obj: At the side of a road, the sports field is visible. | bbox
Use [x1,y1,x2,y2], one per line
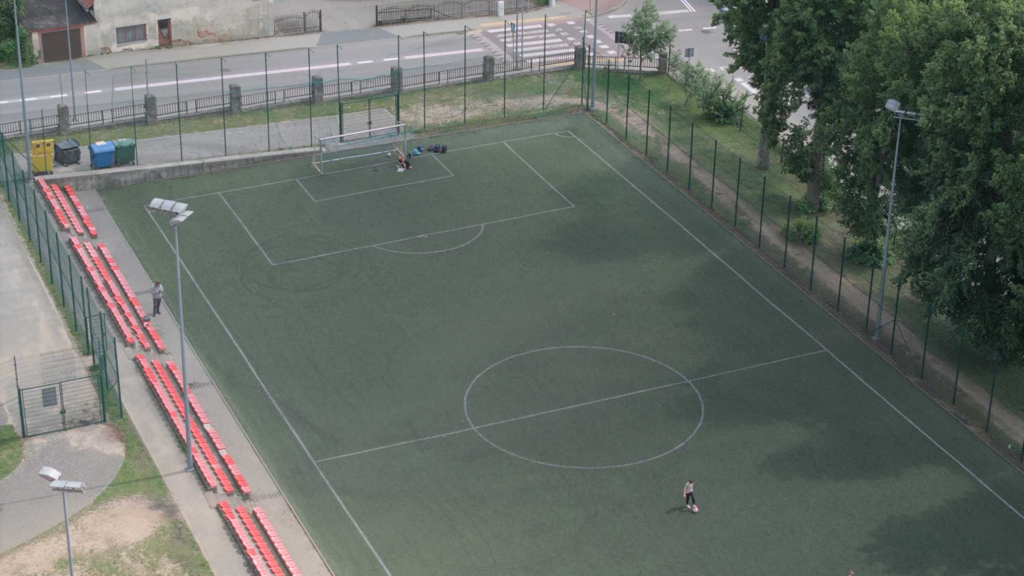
[98,113,1024,576]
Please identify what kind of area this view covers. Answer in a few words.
sports ground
